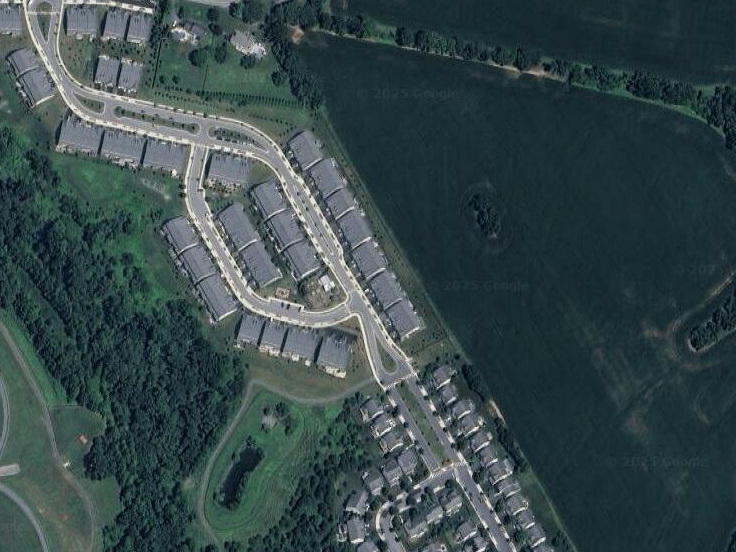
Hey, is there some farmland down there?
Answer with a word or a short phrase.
Yes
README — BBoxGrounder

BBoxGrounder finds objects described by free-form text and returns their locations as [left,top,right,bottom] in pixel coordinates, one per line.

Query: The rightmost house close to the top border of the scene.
[228,27,253,51]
